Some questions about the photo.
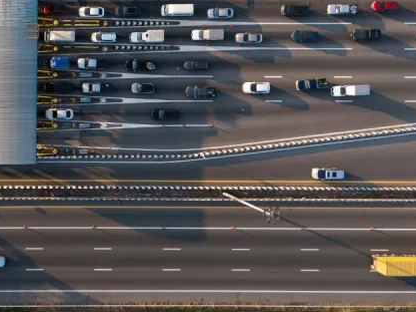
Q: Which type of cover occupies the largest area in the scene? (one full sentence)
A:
The largest share of the image is taken up by paved ground.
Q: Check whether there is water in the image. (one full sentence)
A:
No, the picture contains no water.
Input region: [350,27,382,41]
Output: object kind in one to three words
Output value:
vehicle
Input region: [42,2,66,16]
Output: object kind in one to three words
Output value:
vehicle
